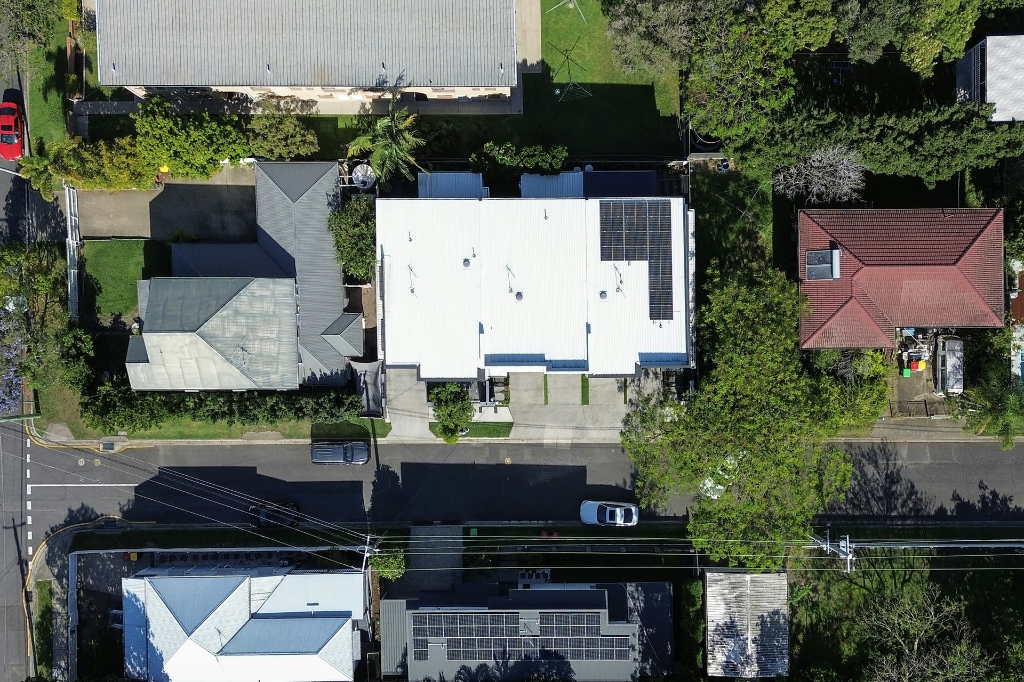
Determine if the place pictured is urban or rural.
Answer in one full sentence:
From above, the setting appears urban.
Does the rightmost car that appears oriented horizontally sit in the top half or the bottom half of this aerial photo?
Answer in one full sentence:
The bottom half of the photo is where the rightmost car that appears oriented horizontally is.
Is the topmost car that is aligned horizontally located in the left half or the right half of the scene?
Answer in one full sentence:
It is on the left.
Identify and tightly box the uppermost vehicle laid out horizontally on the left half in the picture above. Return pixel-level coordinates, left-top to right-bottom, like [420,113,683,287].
[309,439,370,468]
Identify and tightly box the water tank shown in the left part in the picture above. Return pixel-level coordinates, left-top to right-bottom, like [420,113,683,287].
[351,163,380,192]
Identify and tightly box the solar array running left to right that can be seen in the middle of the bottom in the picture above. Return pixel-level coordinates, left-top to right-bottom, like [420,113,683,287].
[412,615,630,660]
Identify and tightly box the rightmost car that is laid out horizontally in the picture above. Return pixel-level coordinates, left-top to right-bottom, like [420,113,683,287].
[578,499,636,527]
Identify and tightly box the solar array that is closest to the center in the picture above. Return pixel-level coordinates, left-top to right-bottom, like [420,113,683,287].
[600,202,674,320]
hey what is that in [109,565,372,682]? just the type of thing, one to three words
house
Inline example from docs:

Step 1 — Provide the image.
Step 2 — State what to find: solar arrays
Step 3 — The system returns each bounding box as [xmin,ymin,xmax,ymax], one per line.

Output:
[412,615,630,660]
[600,202,674,320]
